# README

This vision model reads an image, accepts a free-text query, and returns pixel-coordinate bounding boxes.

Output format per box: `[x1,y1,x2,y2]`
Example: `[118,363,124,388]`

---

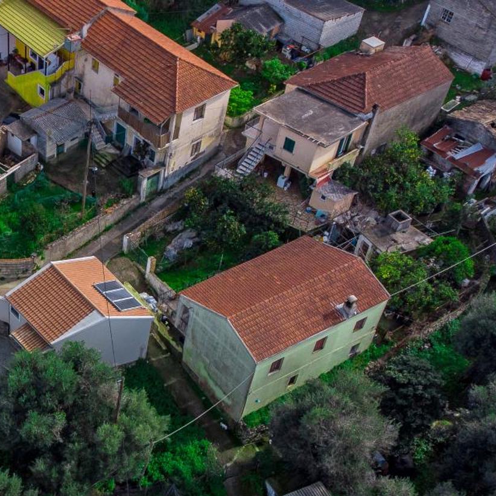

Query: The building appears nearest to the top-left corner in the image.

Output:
[0,0,106,110]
